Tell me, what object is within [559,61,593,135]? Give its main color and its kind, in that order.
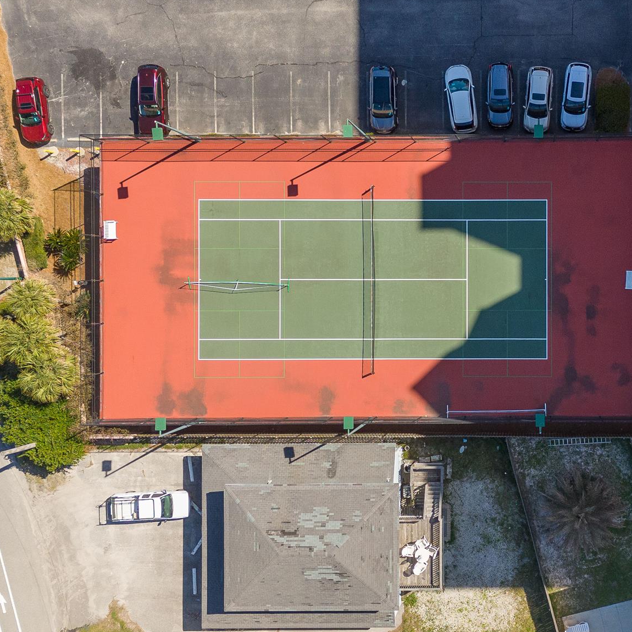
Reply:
blue car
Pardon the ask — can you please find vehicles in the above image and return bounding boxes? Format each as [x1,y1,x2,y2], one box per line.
[14,75,57,145]
[366,65,399,135]
[484,61,517,131]
[559,61,593,135]
[102,490,193,524]
[135,63,172,135]
[443,65,477,135]
[522,65,555,135]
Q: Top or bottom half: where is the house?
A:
bottom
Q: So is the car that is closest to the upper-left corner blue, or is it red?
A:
red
